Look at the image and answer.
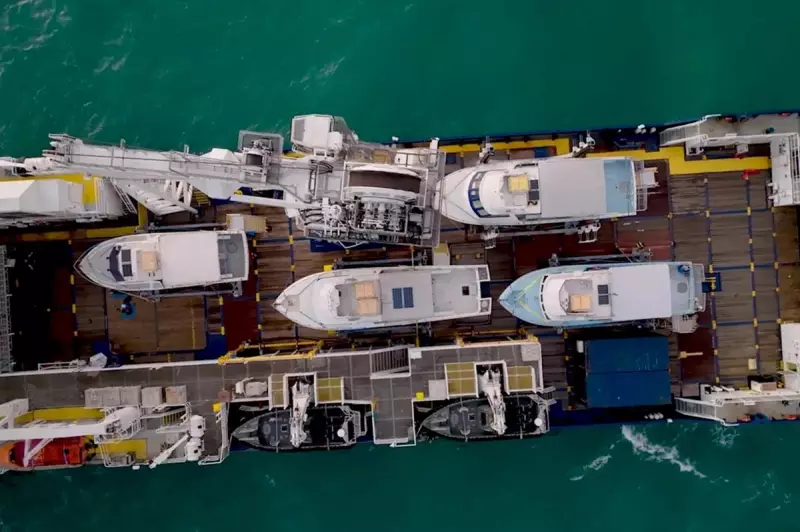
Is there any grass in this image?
No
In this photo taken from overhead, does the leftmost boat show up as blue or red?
red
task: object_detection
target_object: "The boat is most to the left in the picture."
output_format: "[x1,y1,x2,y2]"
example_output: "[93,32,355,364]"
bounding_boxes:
[0,437,98,470]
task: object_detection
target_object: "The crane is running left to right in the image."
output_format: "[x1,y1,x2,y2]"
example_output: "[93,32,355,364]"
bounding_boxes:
[0,113,448,252]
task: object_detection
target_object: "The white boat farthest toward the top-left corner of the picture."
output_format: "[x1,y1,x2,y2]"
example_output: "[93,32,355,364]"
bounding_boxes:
[70,230,255,300]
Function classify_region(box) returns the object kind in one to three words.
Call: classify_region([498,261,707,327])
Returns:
boat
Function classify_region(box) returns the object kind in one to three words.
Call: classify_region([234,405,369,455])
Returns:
boat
